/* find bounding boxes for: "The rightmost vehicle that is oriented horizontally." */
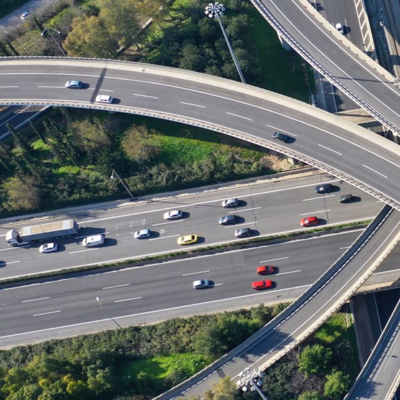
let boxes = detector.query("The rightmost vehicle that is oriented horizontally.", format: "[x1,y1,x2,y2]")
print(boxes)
[333,192,358,205]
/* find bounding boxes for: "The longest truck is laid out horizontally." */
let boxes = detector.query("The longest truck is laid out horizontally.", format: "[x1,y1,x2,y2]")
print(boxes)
[1,220,77,248]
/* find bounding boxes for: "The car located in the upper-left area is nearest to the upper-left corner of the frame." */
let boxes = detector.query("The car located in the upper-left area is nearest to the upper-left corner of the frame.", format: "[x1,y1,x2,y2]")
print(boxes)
[18,8,33,22]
